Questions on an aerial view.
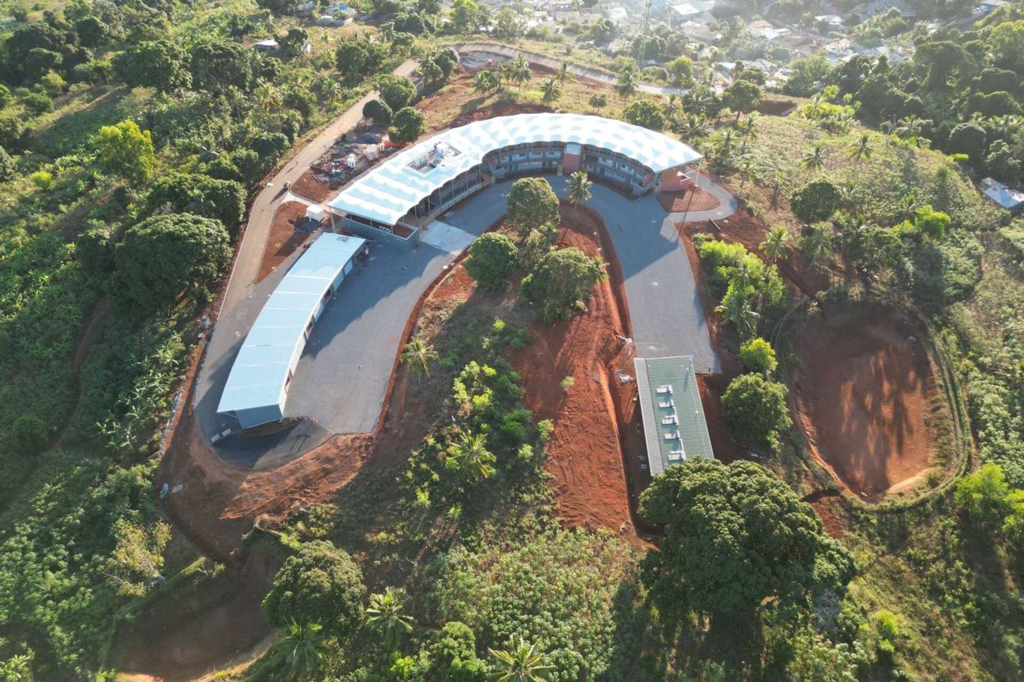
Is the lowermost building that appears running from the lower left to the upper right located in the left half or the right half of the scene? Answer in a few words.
left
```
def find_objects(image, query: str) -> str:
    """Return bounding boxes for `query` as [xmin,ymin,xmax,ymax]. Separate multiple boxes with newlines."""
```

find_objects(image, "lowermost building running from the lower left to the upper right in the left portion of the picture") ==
[218,233,368,430]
